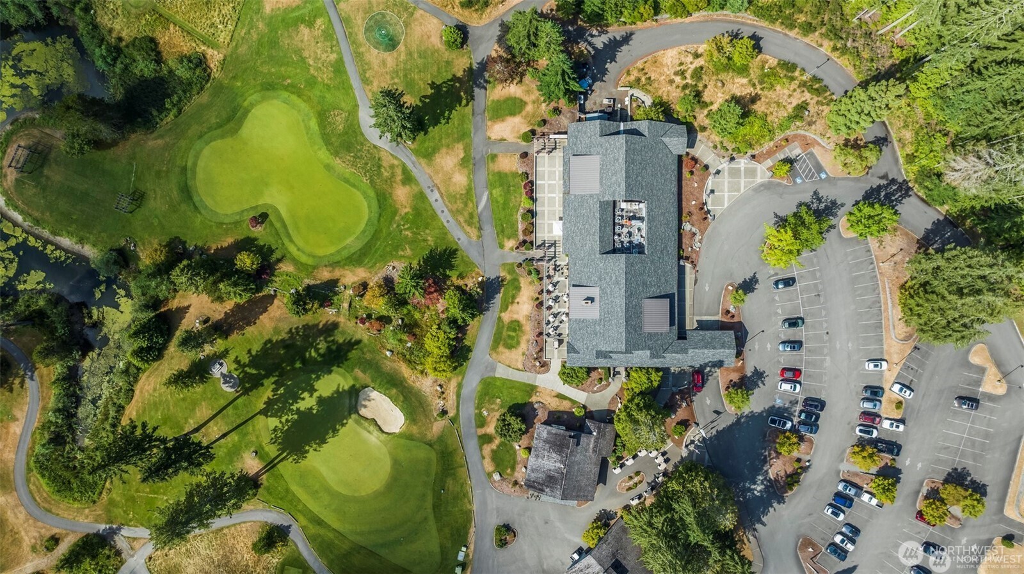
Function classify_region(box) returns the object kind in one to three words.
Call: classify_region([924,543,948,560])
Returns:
car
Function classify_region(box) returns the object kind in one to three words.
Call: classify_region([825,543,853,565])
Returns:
truck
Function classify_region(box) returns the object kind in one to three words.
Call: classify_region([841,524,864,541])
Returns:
car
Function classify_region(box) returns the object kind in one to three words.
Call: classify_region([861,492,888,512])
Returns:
vehicle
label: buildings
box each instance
[562,119,737,367]
[525,419,615,501]
[567,517,668,574]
